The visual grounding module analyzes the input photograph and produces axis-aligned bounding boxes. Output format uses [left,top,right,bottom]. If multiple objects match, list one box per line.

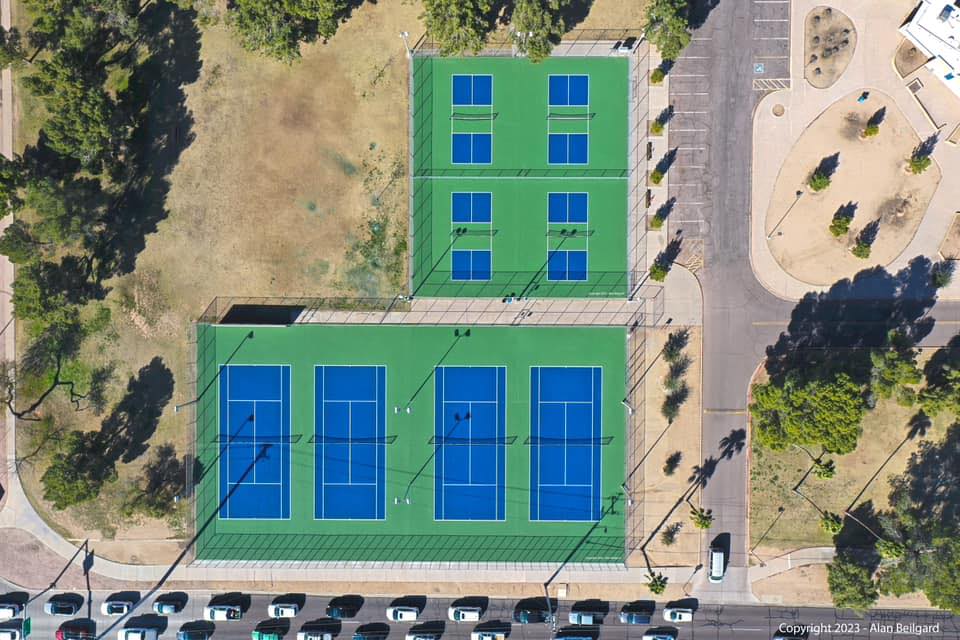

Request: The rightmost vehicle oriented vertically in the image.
[706,543,725,579]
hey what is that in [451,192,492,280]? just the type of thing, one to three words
sports court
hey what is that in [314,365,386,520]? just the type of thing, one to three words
tennis court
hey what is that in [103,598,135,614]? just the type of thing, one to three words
car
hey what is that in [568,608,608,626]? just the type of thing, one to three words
vehicle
